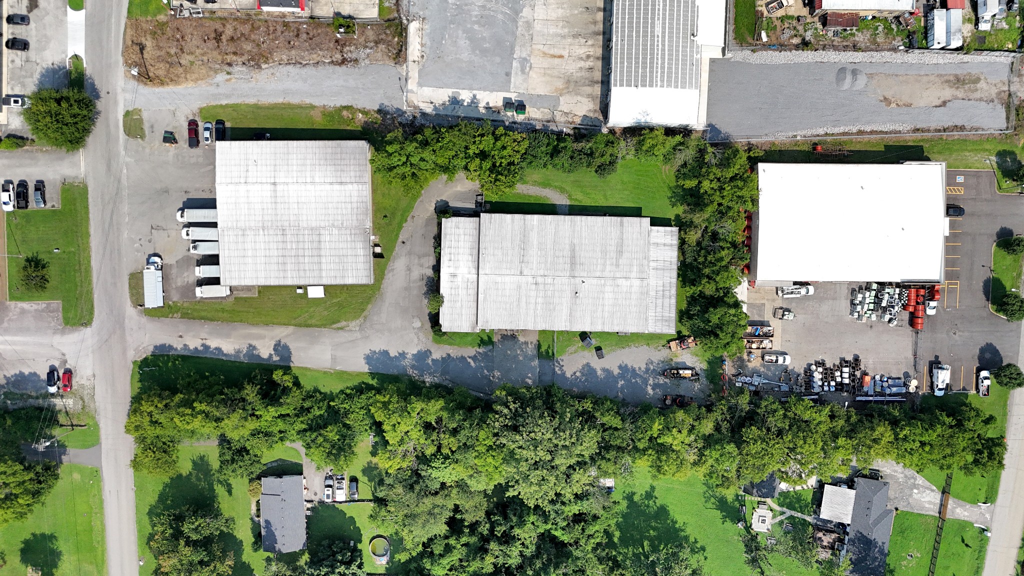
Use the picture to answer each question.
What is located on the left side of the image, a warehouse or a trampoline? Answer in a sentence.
You can see a warehouse on the left side of the image.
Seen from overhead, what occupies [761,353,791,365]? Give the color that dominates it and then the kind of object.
white vehicle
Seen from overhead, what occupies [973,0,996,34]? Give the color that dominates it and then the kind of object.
white truck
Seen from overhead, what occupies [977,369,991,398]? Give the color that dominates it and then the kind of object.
white vehicle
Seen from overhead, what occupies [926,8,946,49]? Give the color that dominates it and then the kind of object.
white trailer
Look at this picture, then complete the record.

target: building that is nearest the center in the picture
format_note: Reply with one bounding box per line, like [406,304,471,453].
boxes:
[440,213,679,335]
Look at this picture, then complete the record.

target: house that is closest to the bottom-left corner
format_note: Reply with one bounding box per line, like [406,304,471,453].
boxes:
[261,476,308,552]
